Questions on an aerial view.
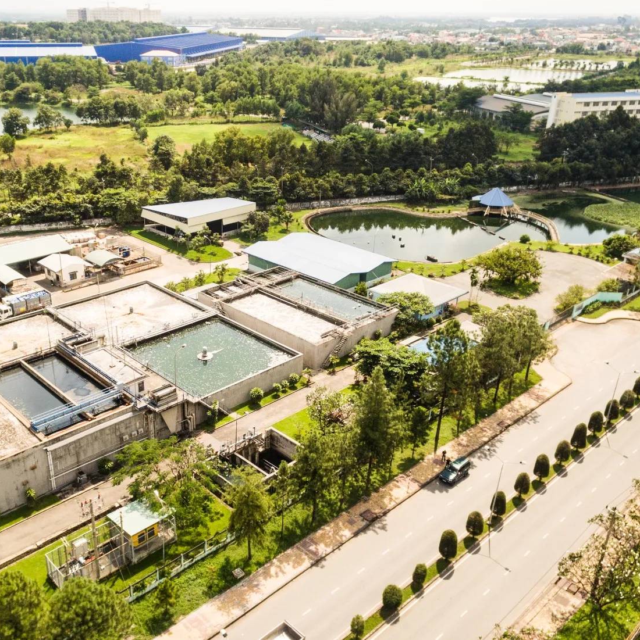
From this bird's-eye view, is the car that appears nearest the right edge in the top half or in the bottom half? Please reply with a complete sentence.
The car that appears nearest the right edge is in the bottom half of the image.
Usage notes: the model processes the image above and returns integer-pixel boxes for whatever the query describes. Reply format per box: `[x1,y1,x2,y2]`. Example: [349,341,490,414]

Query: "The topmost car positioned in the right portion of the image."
[443,457,477,485]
